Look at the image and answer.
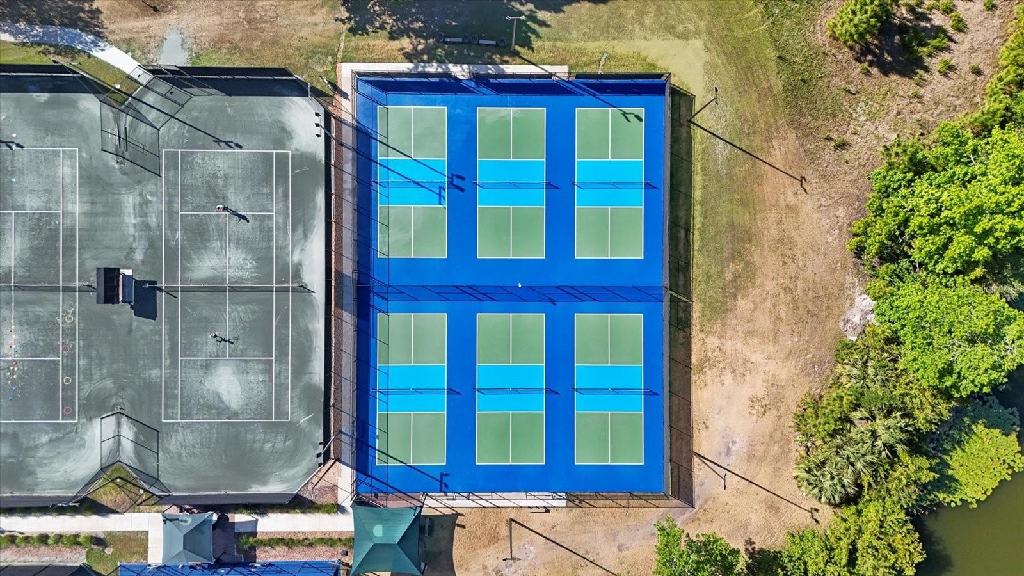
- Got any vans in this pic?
No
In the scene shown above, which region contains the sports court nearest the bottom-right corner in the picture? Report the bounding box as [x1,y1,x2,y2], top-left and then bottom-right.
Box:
[575,313,644,465]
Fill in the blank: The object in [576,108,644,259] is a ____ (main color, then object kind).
green sports court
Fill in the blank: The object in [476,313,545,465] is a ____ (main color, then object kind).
green sports court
